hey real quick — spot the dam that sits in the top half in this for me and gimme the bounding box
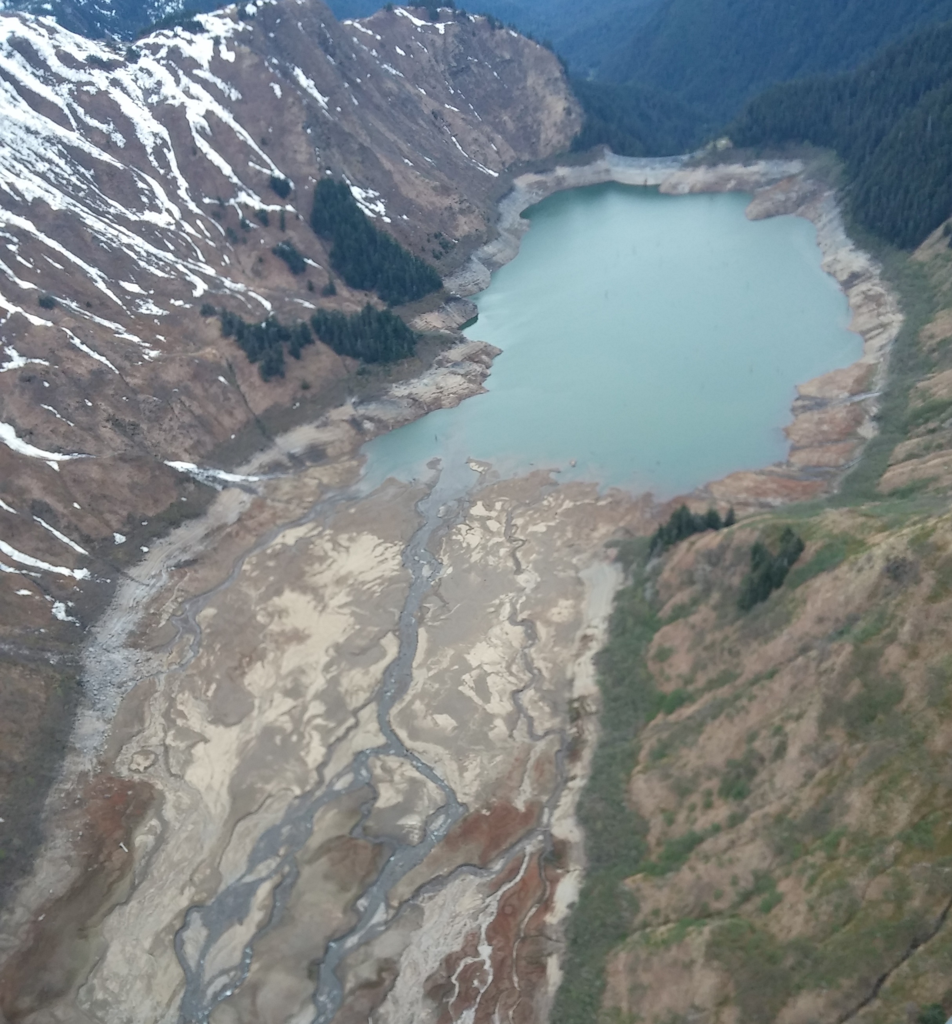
[602,146,709,185]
